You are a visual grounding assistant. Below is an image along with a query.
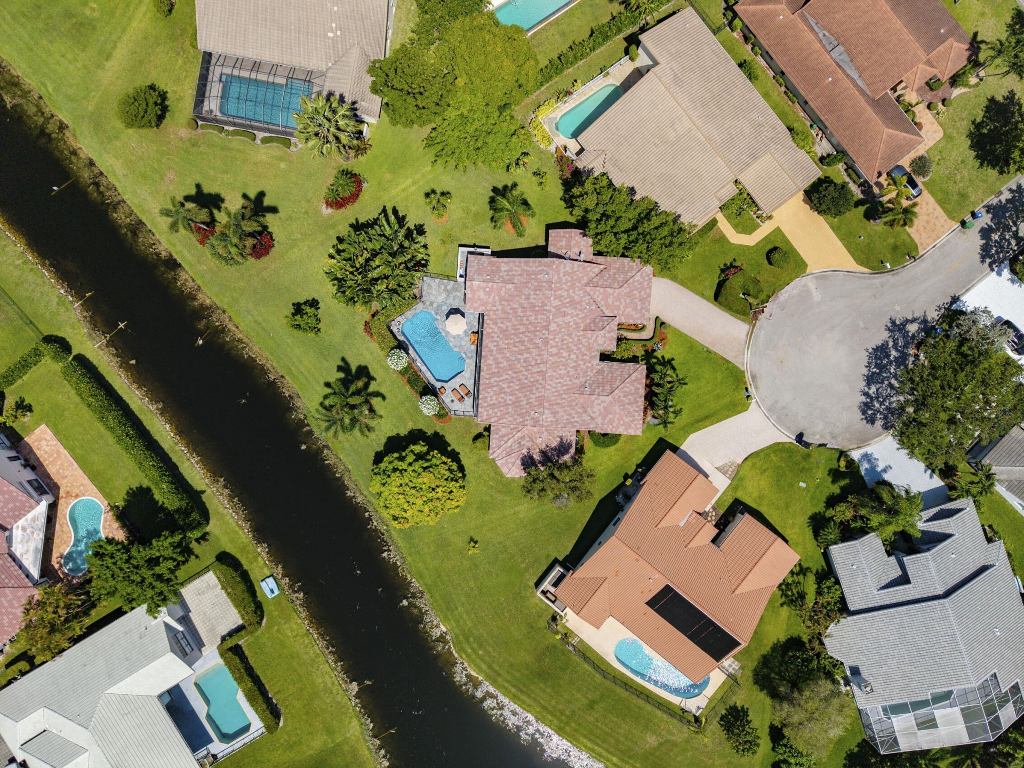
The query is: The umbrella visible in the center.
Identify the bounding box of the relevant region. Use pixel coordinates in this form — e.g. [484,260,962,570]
[446,314,467,335]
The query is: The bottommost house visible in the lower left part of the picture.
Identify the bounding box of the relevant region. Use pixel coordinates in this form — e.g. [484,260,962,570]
[0,600,202,768]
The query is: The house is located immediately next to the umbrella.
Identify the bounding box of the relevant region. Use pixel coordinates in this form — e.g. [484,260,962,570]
[465,229,652,478]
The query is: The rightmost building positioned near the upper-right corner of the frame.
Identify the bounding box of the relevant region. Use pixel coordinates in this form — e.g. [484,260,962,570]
[732,0,977,185]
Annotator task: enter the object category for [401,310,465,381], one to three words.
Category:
swimming pool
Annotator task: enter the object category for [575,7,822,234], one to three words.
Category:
house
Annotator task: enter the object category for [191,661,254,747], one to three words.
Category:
swimming pool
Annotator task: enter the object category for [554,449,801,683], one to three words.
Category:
house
